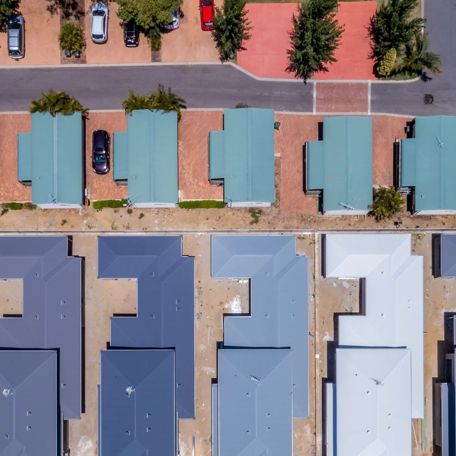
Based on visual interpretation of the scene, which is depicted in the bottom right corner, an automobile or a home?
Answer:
home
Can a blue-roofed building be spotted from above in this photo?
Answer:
Yes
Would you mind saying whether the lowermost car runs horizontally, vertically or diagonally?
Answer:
vertically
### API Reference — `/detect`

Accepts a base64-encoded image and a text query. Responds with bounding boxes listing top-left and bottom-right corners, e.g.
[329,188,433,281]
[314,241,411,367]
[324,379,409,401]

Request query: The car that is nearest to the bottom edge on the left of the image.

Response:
[90,129,111,175]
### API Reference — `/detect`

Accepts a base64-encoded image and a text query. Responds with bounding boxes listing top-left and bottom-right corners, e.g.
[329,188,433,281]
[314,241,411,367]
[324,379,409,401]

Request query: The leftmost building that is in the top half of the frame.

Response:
[17,111,83,208]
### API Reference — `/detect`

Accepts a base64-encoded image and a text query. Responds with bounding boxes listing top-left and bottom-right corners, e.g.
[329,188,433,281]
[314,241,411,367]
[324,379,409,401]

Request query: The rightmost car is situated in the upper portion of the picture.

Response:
[198,0,217,33]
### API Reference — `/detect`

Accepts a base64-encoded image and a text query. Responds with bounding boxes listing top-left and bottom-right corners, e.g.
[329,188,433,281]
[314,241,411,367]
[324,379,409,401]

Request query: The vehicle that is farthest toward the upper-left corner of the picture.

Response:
[7,13,26,63]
